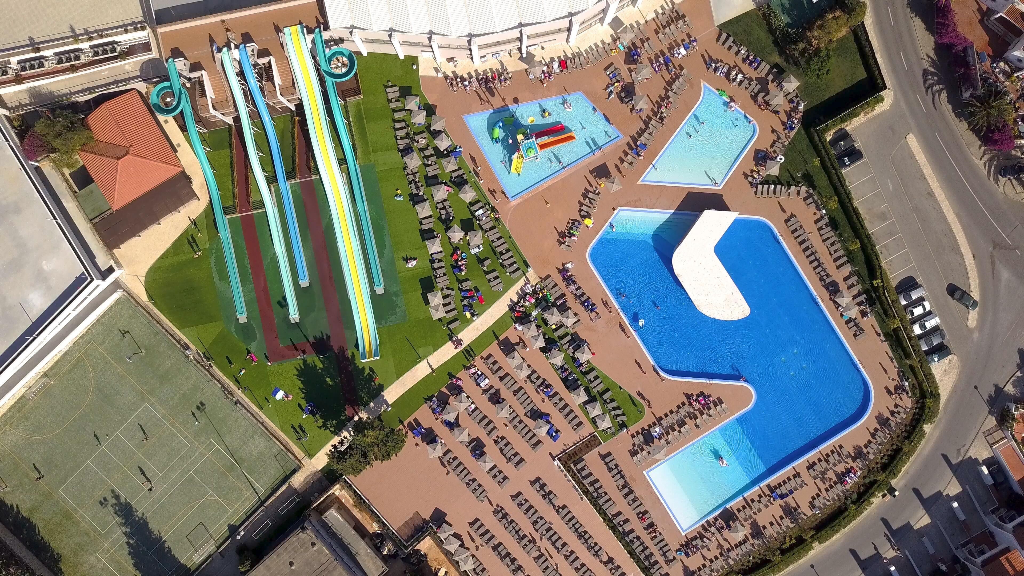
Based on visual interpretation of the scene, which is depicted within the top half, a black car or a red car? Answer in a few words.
black car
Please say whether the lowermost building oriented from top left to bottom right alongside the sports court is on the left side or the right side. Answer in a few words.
left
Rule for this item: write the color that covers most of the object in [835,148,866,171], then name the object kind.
black car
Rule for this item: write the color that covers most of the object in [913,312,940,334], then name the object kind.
white car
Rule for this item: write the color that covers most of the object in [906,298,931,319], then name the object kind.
white car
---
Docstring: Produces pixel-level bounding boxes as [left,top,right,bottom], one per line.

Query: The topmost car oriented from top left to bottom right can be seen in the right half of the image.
[946,285,977,309]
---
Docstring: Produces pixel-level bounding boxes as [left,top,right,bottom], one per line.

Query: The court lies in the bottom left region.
[0,297,299,576]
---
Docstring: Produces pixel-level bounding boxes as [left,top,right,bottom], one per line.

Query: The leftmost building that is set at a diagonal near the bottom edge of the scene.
[306,501,392,576]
